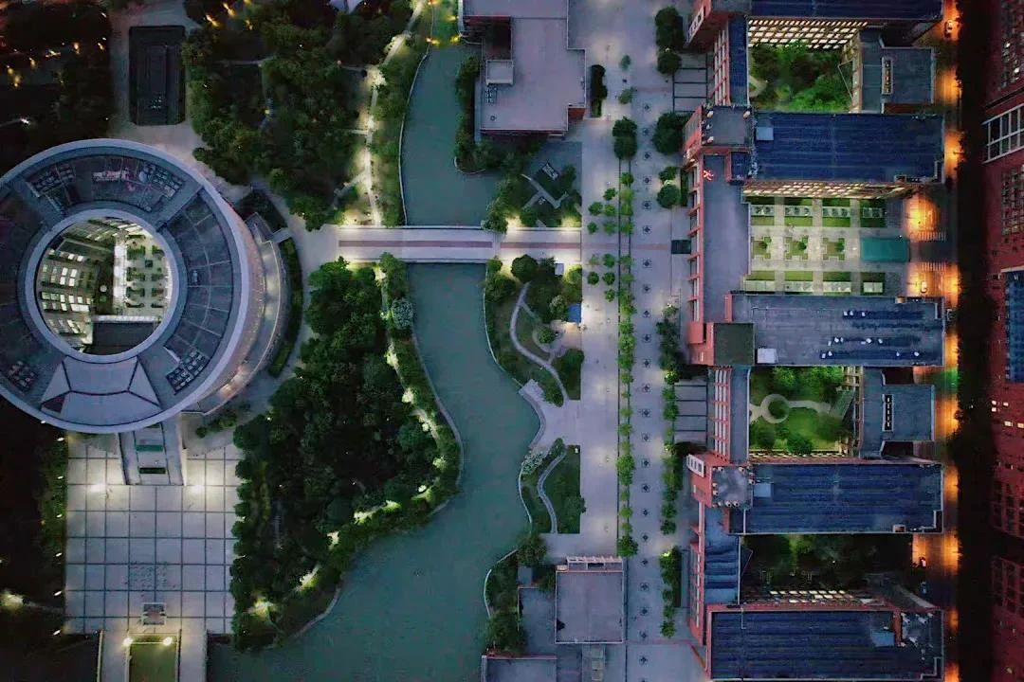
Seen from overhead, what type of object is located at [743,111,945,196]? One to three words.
building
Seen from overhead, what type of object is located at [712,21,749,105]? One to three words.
building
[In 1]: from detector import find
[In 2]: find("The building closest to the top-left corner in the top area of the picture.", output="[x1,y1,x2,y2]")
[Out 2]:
[129,25,193,130]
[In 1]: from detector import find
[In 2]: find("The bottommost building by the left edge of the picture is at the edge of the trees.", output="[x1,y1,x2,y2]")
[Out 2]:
[0,140,294,432]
